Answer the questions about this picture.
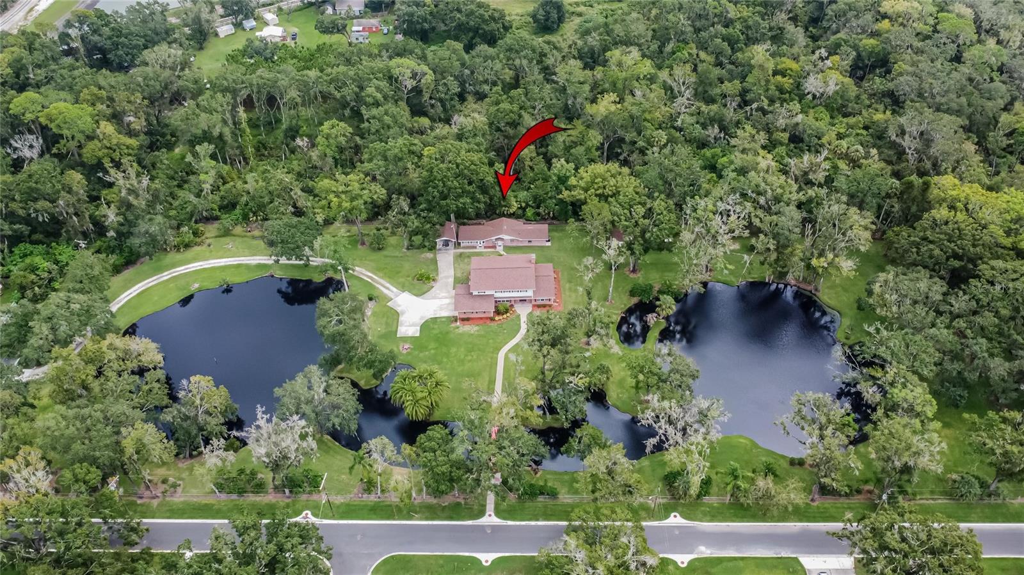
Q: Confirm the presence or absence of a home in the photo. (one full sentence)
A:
Yes, the image includes a home.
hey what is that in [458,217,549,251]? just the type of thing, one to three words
house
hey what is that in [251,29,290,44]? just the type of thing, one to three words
house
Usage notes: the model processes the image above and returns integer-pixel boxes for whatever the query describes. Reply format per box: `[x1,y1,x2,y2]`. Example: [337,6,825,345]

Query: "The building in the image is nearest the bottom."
[455,255,555,318]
